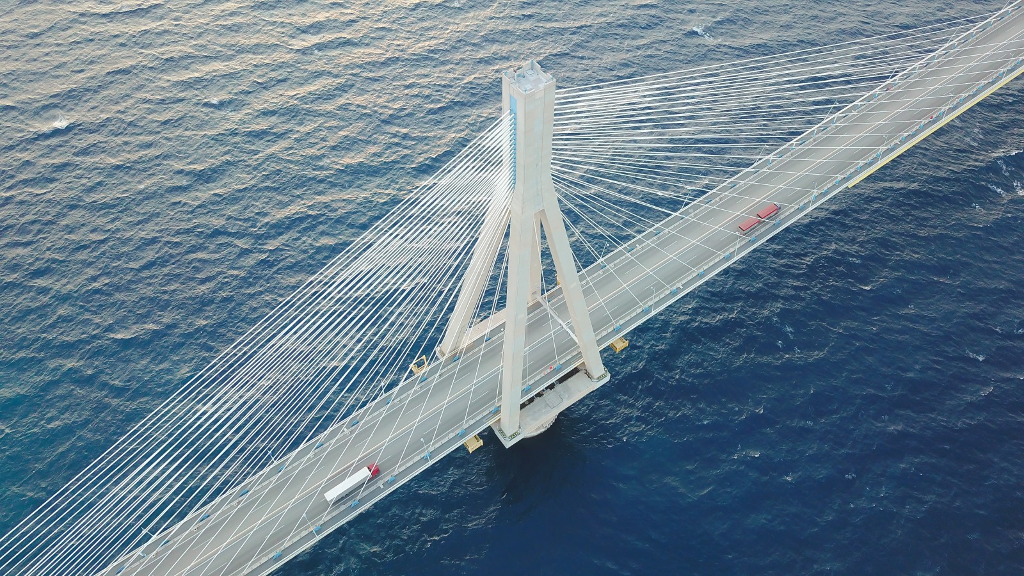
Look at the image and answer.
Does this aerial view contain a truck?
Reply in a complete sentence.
Yes, you can see a truck in this photo.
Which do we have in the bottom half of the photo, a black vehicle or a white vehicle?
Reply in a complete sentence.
Visible in the bottom half of the photo is a white vehicle.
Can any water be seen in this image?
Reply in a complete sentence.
Yes, water can be seen from above here.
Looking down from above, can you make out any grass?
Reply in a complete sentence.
No, the picture contains no grass.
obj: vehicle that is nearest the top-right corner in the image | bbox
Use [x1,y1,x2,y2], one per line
[737,204,781,236]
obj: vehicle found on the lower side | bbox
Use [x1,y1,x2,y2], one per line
[324,463,381,505]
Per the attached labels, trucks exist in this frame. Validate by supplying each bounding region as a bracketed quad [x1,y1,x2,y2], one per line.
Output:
[737,204,781,236]
[324,463,381,505]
